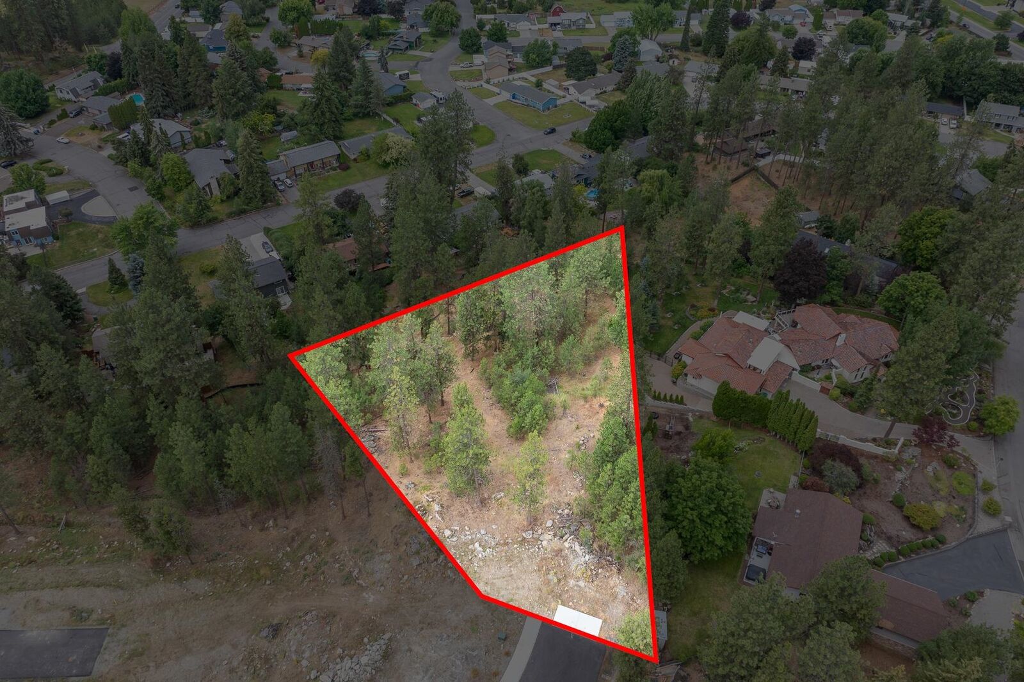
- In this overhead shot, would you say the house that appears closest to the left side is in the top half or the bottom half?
top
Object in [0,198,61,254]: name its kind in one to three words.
house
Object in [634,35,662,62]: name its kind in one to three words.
barn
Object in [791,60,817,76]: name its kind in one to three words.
shed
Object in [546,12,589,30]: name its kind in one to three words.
house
